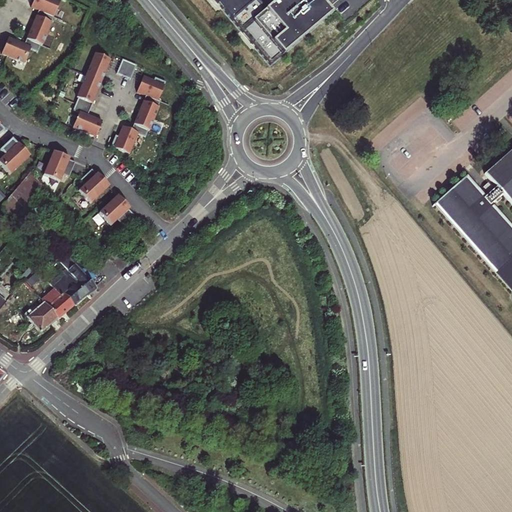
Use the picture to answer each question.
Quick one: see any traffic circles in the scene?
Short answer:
Yes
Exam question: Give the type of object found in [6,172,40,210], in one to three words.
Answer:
barn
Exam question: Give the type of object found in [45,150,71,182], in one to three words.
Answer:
house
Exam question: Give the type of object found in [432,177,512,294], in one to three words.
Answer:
building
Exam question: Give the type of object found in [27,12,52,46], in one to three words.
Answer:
house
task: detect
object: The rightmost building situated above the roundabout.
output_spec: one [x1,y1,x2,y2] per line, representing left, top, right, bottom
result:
[208,0,334,64]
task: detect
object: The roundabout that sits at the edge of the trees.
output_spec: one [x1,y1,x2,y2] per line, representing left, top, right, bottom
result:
[228,101,308,182]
